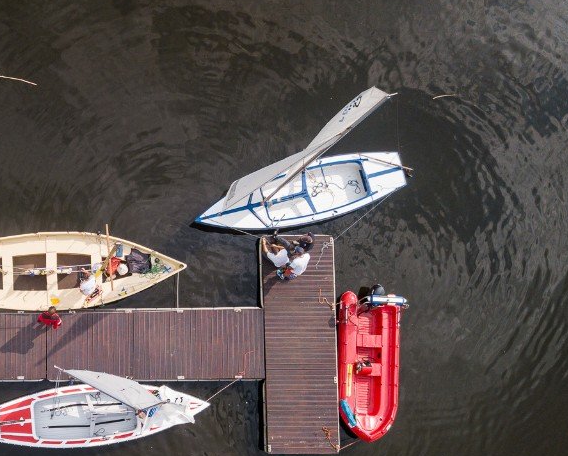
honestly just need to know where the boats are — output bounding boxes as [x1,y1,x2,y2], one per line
[334,278,409,442]
[0,367,211,448]
[193,86,413,233]
[0,231,188,310]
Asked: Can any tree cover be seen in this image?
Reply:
No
